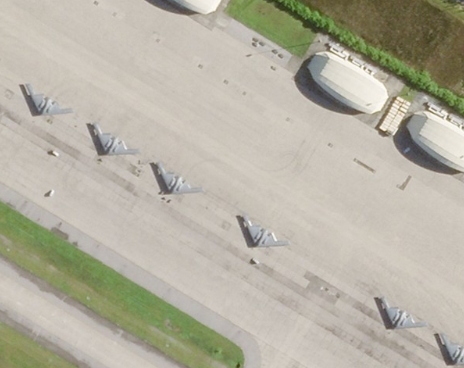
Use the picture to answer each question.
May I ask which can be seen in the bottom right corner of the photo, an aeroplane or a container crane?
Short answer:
aeroplane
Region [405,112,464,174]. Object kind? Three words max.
hangar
